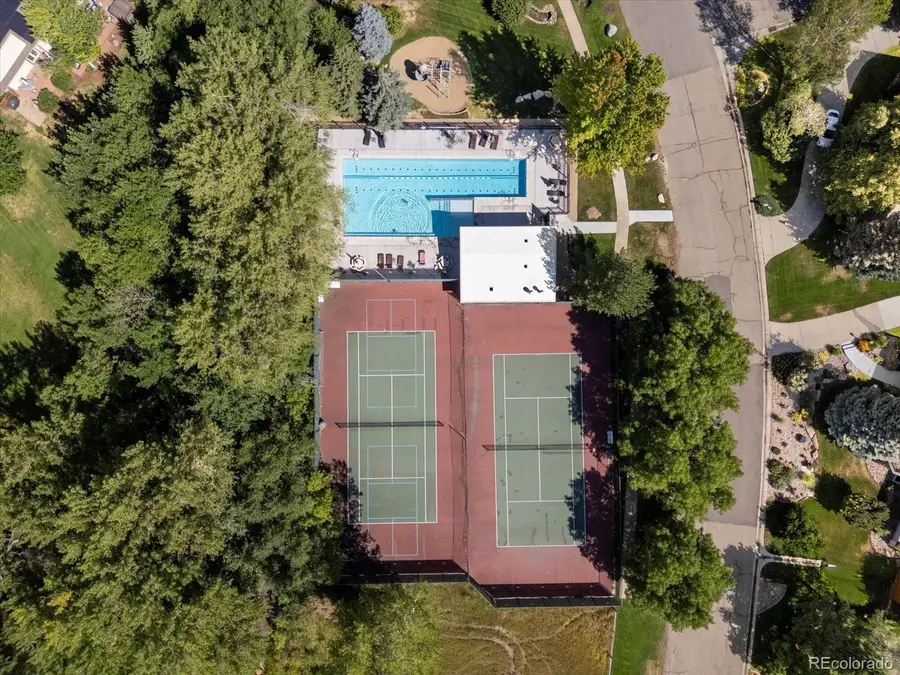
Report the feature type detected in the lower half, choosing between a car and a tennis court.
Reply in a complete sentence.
You can see a tennis court in the lower half.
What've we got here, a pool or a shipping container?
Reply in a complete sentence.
Of the two, only a pool appears.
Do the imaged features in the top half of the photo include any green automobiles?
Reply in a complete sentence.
No, the scene shows no green automobile in the top half of the photo.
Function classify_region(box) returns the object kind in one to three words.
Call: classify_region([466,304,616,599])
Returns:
tennis court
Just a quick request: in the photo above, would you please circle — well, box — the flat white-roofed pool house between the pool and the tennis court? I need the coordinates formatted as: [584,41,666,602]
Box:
[460,227,557,304]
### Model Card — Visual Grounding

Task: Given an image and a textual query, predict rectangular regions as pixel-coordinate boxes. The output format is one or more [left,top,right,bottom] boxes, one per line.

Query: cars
[819,105,845,145]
